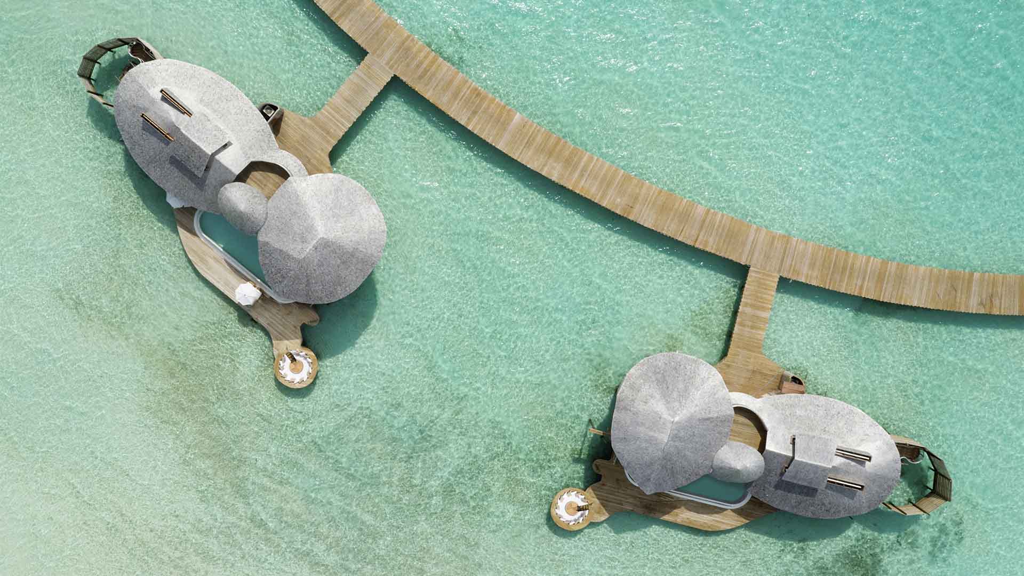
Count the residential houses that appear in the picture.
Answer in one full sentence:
I count 2 residential houses.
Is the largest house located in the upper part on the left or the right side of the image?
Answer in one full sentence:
You can find the largest house located in the upper part on the left side of the picture.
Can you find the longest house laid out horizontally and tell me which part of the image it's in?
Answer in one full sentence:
The longest house laid out horizontally sits in the bottom right section of the image.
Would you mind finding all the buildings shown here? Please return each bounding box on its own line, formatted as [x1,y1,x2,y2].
[610,351,901,519]
[113,58,386,304]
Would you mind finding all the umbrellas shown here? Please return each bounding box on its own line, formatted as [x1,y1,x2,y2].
[167,193,186,207]
[236,282,261,307]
